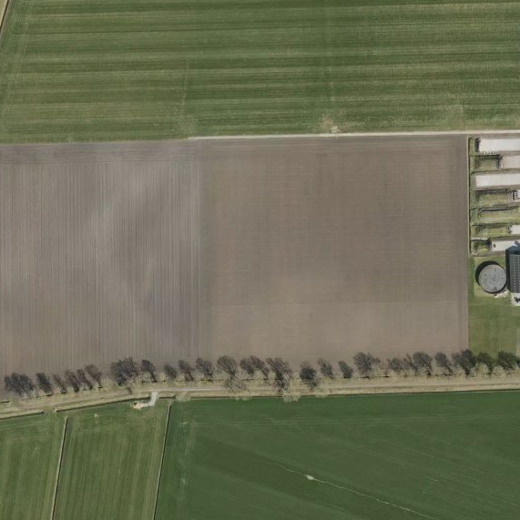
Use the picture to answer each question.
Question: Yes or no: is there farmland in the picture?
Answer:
Yes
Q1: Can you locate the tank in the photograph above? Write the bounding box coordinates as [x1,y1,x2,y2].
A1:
[478,265,506,295]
